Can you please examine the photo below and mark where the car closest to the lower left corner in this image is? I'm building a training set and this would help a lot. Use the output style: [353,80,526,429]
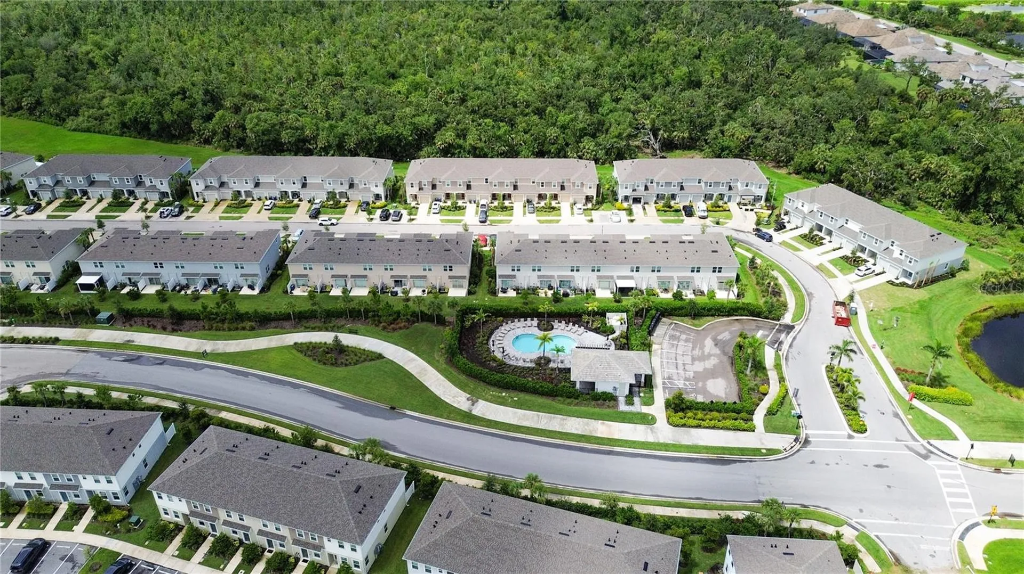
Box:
[6,541,49,570]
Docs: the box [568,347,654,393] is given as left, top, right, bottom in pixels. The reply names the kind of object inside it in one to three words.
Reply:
building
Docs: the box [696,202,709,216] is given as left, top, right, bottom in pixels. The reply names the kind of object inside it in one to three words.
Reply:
vehicle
